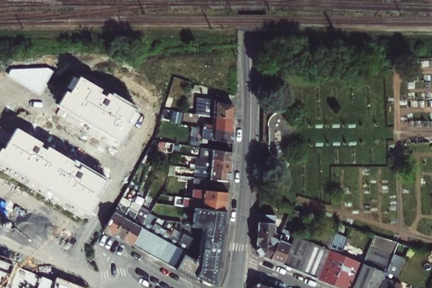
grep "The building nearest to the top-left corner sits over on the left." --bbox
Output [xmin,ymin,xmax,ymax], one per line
[8,68,53,95]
